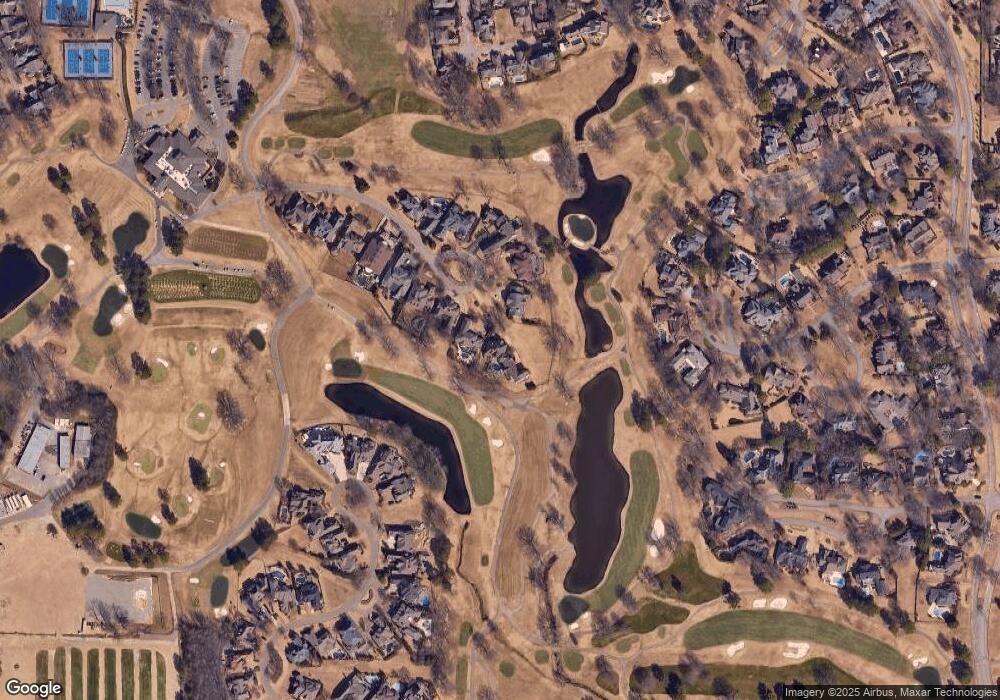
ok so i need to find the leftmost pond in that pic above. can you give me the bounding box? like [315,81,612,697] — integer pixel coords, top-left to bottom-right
[0,244,50,319]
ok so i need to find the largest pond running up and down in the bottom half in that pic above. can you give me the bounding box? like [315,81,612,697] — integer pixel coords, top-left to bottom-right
[564,367,630,594]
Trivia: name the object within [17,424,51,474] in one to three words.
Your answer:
shed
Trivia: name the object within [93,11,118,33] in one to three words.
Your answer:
building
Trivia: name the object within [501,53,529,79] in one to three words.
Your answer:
house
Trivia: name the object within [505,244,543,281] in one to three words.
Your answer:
house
